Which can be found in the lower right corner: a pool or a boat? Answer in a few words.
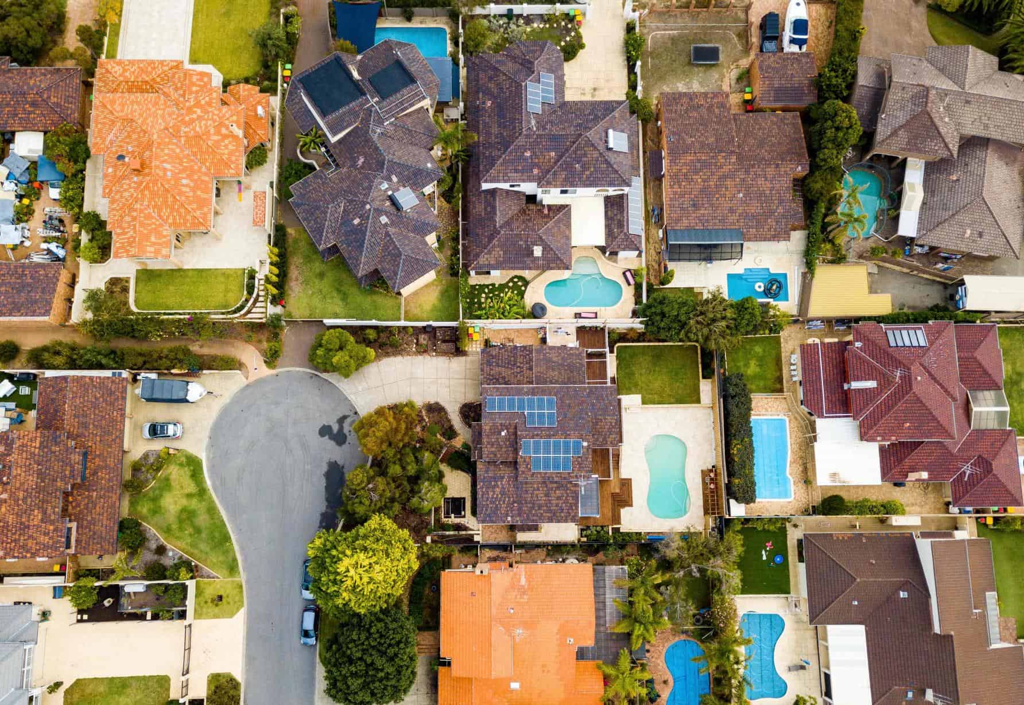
pool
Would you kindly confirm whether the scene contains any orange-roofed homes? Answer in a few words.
Yes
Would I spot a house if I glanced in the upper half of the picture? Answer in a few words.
Yes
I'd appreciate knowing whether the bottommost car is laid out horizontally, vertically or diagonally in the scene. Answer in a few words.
vertically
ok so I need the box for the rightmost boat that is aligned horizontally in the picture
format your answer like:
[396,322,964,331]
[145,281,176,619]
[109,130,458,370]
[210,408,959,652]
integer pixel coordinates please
[129,376,215,403]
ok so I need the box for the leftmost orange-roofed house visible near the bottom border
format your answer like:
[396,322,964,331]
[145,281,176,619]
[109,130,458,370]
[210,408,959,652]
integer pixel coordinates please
[437,561,605,705]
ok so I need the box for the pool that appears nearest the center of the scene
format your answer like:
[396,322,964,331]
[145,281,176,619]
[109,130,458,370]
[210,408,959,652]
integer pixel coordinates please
[541,253,626,310]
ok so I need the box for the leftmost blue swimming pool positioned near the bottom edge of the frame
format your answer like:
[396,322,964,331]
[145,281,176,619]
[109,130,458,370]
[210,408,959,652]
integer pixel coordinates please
[662,637,712,705]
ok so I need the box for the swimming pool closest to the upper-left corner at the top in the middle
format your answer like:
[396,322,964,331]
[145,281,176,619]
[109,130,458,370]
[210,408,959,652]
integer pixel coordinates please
[374,23,450,57]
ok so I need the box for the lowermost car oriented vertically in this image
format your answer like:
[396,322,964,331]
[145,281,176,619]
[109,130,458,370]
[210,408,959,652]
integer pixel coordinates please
[299,604,319,647]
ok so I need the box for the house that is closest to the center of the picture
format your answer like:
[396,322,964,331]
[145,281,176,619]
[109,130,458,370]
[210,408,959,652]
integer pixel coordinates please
[470,345,623,524]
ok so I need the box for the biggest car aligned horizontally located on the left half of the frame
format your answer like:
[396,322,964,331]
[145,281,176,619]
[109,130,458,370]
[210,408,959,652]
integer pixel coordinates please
[142,421,184,440]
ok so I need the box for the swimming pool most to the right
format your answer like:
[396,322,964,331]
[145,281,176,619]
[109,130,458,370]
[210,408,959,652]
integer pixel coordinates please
[836,165,886,241]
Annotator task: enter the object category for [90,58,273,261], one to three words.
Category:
house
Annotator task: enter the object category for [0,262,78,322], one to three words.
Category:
shed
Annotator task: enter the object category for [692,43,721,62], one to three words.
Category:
trampoline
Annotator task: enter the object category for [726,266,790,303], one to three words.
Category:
swimming pool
